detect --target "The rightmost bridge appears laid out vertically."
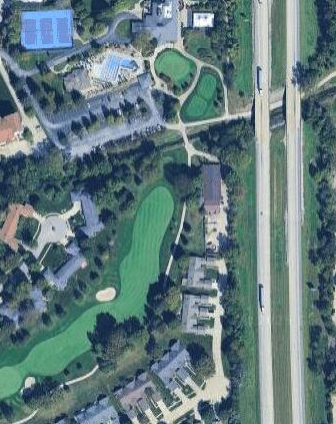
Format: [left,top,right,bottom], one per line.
[286,77,302,128]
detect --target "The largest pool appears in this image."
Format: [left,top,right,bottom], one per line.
[97,55,122,83]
